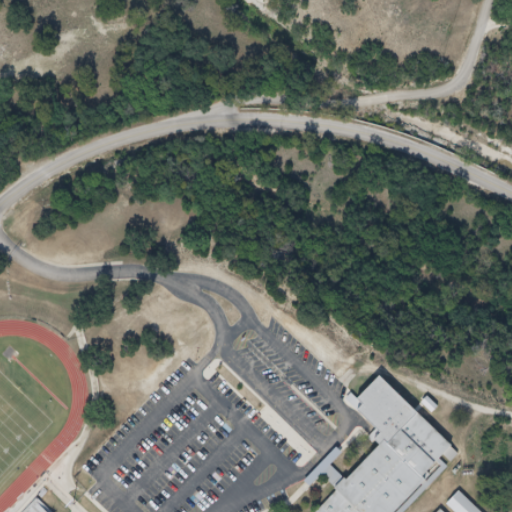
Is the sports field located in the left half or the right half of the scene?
left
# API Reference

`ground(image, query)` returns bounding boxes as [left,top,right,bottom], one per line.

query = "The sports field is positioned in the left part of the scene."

[0,333,73,494]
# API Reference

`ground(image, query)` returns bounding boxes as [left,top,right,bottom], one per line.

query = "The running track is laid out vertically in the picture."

[0,319,87,512]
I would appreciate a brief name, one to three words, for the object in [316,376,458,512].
building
